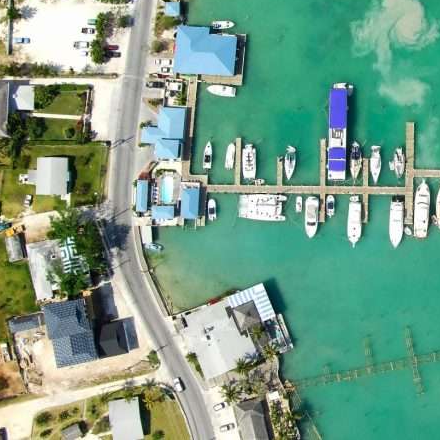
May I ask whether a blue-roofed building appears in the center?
Yes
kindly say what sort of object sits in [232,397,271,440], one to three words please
house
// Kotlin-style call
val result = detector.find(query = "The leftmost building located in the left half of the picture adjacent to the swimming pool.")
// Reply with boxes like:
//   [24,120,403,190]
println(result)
[136,179,151,213]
